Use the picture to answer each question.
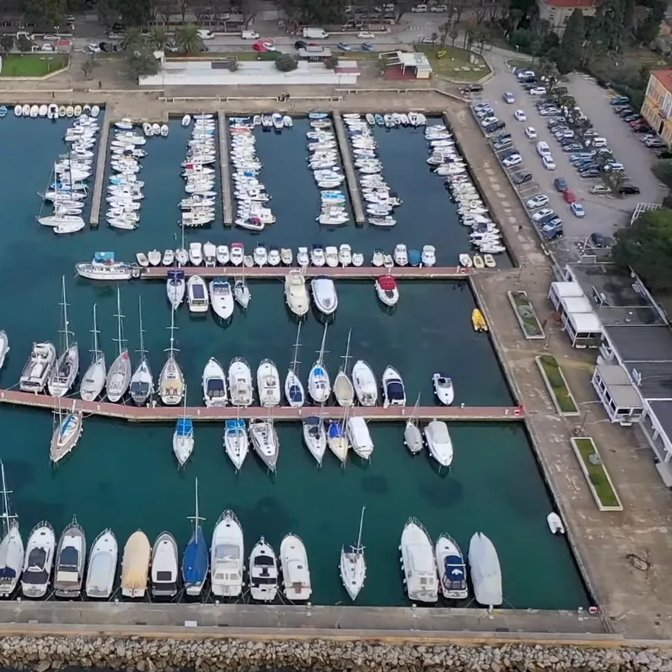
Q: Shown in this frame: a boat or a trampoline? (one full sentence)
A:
The one in the frame is a boat.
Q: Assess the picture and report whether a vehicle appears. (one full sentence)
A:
Yes, a vehicle appears in the view.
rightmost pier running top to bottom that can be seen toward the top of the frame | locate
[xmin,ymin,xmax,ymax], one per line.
[334,113,363,224]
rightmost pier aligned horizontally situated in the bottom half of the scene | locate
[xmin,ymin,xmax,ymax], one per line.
[123,407,524,421]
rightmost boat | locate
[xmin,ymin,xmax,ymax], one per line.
[550,514,564,535]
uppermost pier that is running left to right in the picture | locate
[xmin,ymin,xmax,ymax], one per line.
[139,267,469,280]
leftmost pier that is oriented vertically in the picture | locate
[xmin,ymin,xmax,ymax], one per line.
[90,103,110,227]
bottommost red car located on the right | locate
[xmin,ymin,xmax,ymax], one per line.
[563,188,577,202]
